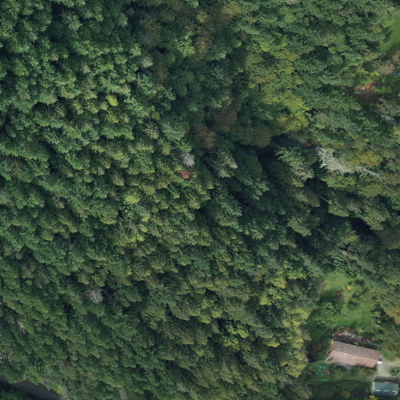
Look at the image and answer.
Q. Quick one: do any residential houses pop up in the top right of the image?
No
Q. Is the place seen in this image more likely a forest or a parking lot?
forest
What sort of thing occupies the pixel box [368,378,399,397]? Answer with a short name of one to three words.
shed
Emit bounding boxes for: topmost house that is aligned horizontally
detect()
[326,339,380,368]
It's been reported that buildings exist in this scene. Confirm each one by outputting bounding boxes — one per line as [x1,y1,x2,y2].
[368,378,399,397]
[326,339,380,368]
